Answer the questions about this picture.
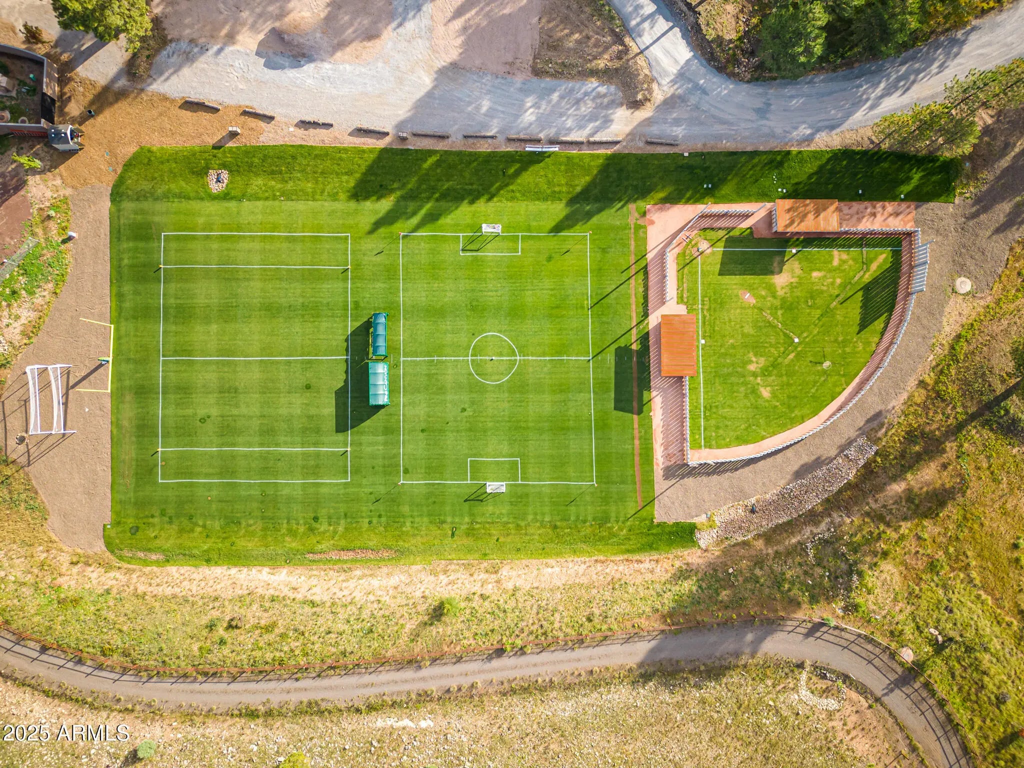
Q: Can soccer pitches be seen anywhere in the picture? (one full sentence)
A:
Yes, there's a soccer pitch down there.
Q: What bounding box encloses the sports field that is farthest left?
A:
[159,232,350,483]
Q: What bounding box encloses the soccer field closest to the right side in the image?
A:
[348,233,644,484]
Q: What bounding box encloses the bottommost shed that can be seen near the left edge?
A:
[42,124,86,153]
